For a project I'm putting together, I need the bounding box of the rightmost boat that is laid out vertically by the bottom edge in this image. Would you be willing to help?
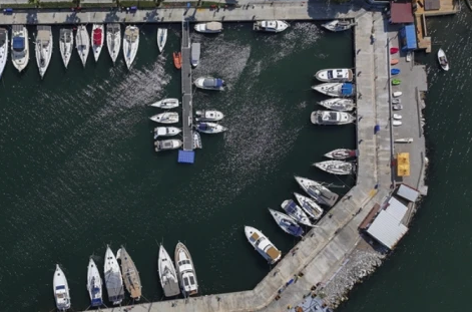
[174,242,203,304]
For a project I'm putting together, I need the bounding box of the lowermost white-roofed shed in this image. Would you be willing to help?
[362,210,408,250]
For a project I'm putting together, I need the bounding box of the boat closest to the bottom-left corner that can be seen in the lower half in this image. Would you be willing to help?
[52,266,70,312]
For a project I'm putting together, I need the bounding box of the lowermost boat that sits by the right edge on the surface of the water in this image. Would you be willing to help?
[436,48,449,72]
